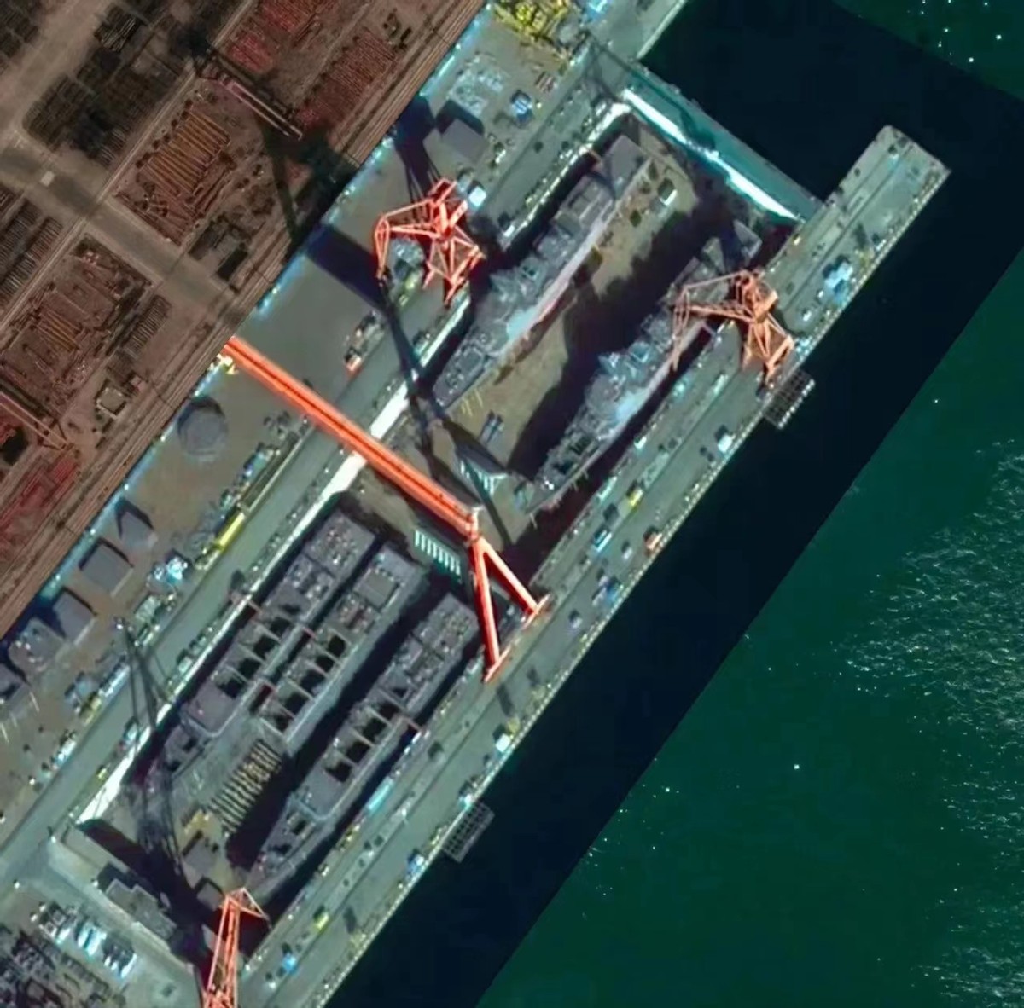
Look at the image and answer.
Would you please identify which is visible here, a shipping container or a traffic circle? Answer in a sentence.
This aerial view contains a shipping container.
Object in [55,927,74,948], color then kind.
white vehicle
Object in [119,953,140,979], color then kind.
white truck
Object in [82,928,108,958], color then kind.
white truck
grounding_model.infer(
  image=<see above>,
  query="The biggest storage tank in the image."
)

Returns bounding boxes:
[182,409,228,454]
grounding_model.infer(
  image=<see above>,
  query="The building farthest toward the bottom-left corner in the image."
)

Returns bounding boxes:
[105,880,180,945]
